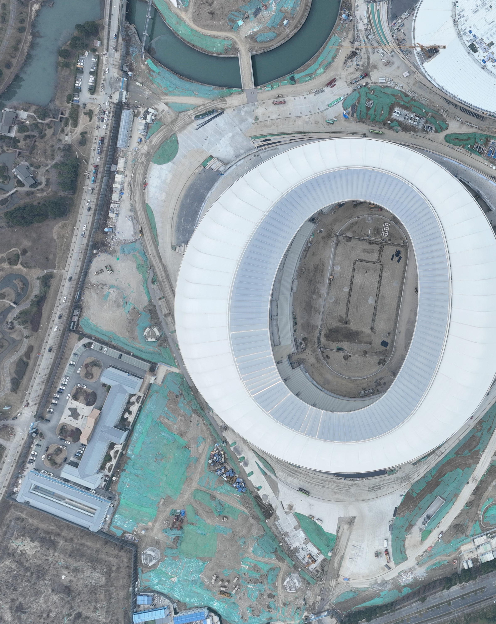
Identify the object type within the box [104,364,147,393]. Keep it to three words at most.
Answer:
building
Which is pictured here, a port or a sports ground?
sports ground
